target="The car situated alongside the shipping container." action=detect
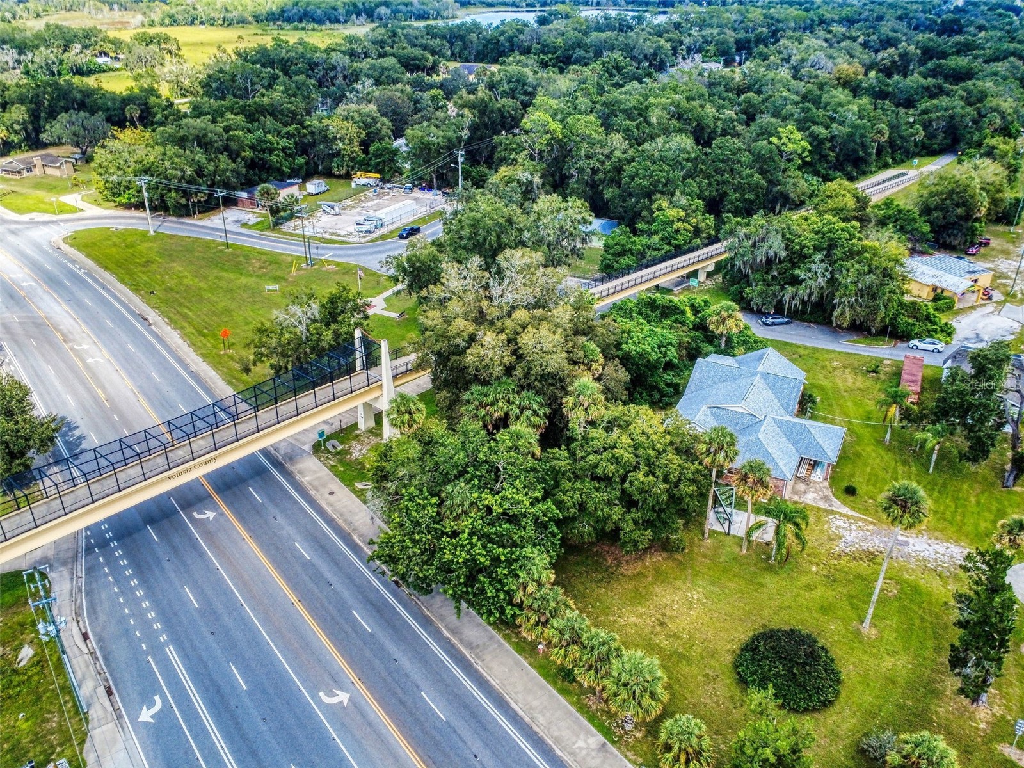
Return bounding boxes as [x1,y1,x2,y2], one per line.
[909,339,946,354]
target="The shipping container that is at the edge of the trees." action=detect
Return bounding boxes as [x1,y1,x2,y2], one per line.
[901,350,929,403]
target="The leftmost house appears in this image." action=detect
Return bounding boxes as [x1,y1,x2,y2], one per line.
[0,151,76,185]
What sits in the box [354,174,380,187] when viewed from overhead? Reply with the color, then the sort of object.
white vehicle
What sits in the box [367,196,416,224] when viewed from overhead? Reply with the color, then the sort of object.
white trailer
